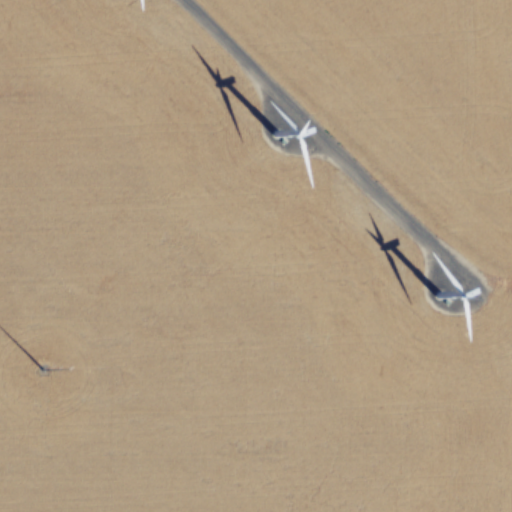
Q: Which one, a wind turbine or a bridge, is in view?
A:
wind turbine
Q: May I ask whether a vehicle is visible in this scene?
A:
No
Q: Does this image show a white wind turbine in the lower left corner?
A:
No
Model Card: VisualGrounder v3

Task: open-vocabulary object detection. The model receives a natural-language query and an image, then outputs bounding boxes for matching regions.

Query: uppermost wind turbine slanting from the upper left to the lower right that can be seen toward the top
[270,100,318,188]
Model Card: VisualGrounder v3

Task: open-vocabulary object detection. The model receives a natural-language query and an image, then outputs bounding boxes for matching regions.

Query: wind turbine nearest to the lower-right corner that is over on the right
[434,252,482,340]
